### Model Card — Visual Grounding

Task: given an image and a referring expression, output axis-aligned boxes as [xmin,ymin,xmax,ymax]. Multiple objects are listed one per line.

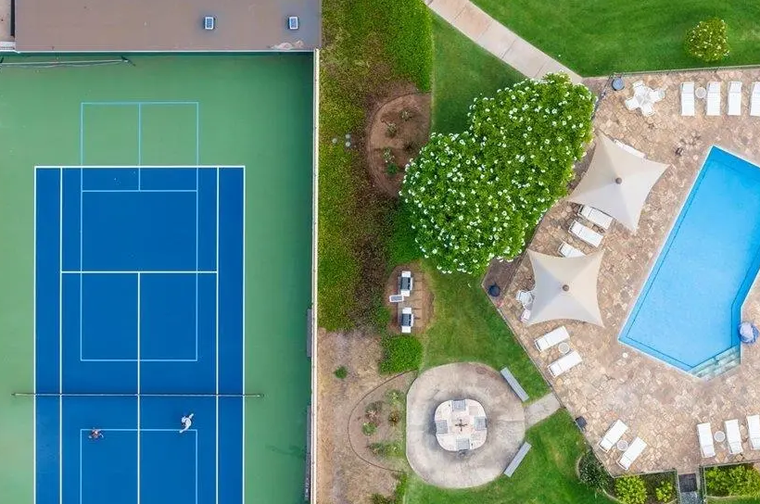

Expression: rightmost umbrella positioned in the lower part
[736,320,758,342]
